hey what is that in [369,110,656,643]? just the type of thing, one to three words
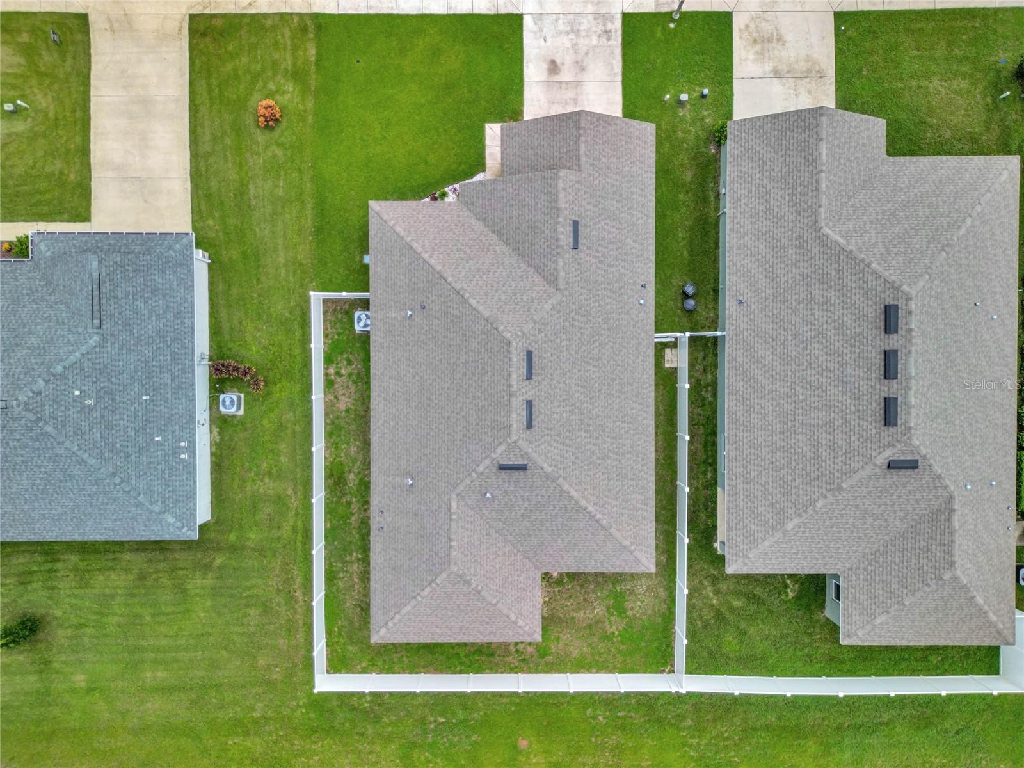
house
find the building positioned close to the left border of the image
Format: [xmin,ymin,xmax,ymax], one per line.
[0,229,229,541]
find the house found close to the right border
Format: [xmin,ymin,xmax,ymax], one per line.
[712,105,1021,645]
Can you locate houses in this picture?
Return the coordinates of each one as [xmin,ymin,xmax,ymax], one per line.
[0,229,229,541]
[712,105,1021,645]
[369,110,656,643]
